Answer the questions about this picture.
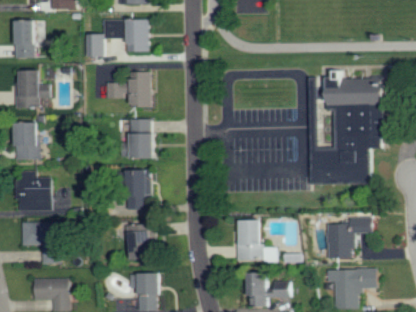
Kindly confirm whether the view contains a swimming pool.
Yes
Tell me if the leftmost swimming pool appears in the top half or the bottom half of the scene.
top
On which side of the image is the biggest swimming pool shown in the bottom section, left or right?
right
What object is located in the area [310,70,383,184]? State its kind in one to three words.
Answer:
building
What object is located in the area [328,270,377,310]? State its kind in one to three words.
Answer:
house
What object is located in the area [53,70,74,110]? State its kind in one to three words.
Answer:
swimming pool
